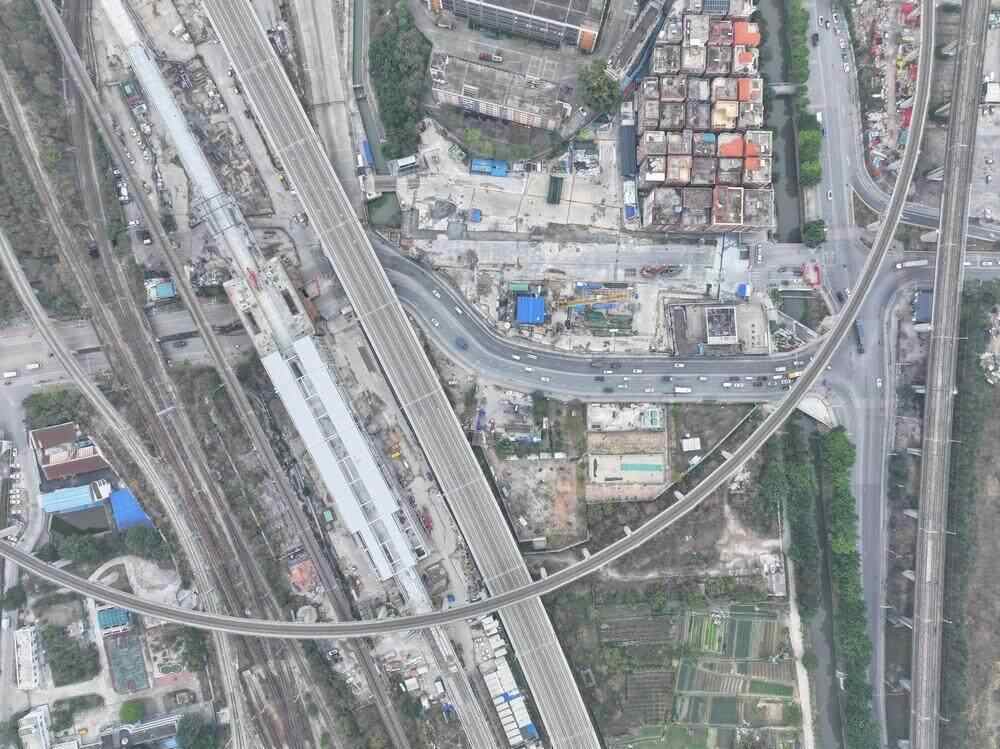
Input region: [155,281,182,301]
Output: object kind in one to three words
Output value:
house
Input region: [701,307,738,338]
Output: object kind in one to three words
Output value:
building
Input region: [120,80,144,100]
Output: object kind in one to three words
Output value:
shed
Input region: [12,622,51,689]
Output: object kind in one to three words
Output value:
building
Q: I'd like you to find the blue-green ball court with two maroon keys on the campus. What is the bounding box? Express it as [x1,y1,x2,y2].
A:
[109,633,148,694]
